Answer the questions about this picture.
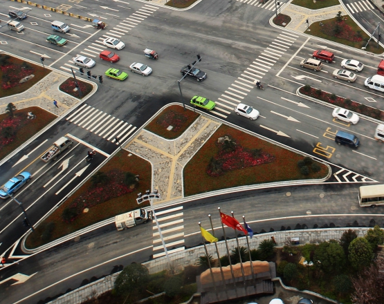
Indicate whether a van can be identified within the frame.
Yes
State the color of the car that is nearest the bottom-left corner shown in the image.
blue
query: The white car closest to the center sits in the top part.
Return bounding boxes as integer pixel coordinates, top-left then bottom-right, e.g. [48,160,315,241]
[233,102,261,122]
